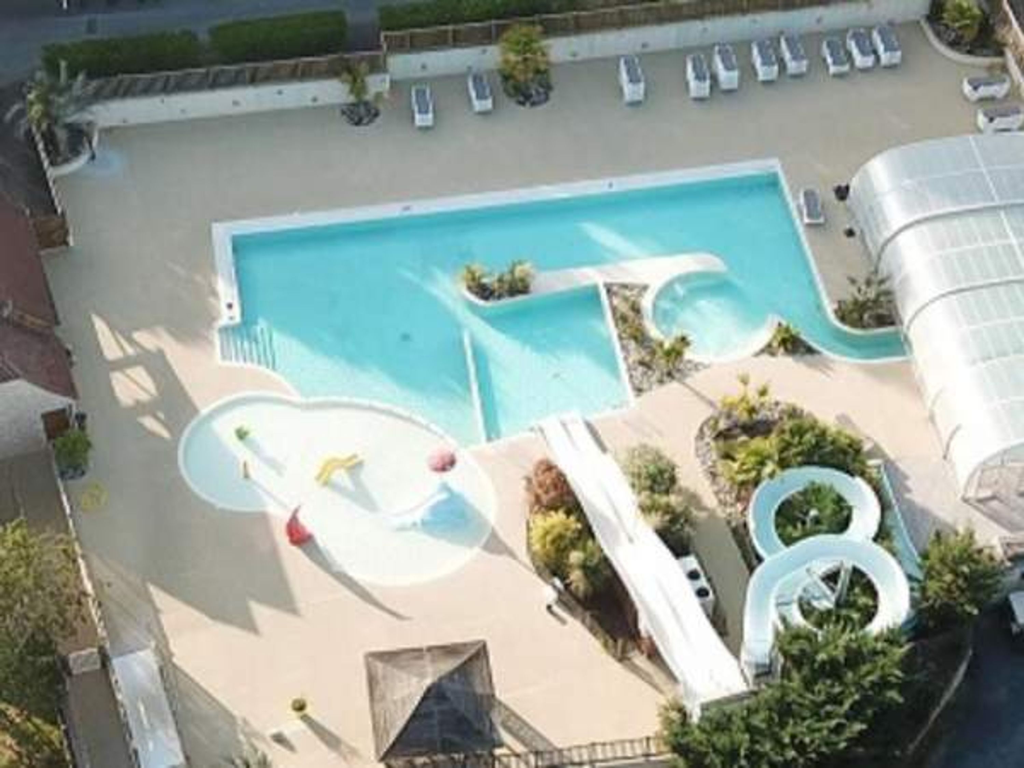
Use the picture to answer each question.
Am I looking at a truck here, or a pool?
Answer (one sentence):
This aerial view contains a pool.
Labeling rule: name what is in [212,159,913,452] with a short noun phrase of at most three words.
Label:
swimming pool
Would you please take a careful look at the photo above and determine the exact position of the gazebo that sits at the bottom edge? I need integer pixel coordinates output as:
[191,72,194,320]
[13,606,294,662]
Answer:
[364,640,504,768]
